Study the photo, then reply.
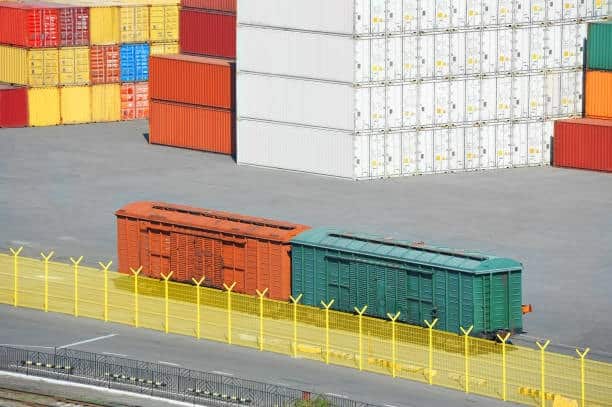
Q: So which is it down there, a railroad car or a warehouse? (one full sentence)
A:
The image shows a railroad car.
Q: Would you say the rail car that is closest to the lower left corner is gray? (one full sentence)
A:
No, the rail car that is closest to the lower left corner is orange.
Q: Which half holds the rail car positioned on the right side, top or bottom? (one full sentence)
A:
You can find the rail car positioned on the right side in the bottom half.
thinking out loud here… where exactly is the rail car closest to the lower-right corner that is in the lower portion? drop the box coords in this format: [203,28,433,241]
[290,230,528,357]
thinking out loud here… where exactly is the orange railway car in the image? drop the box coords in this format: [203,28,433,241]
[114,202,316,321]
